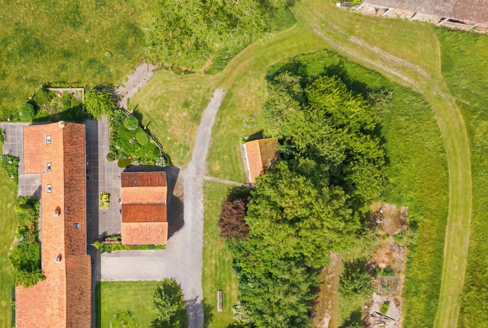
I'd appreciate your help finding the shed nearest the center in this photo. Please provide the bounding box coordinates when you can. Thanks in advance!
[243,137,283,182]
